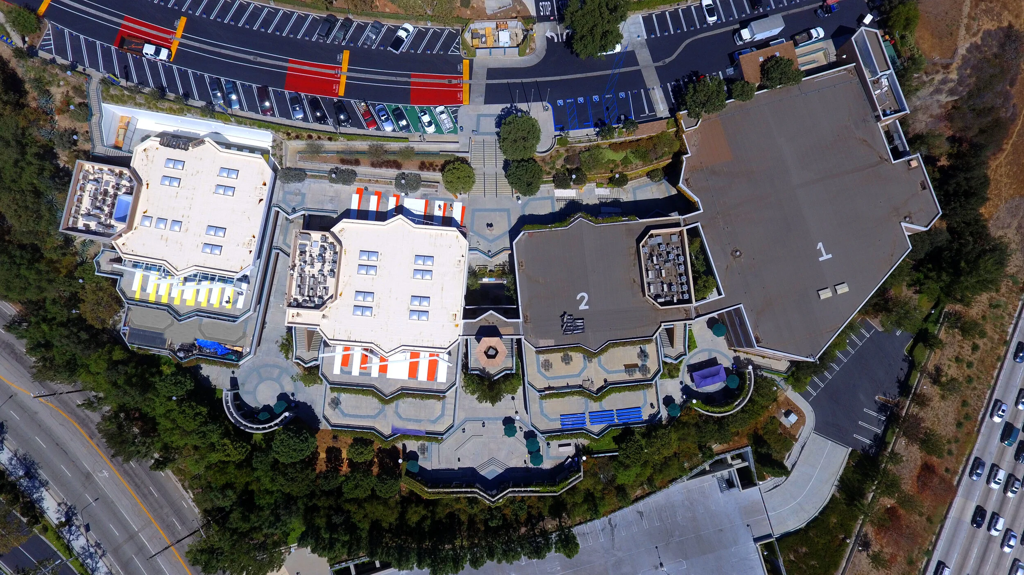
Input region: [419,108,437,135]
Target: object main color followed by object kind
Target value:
white car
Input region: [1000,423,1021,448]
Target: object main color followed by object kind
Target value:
blue car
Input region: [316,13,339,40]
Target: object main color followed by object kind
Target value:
black car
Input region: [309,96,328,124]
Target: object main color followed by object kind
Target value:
black car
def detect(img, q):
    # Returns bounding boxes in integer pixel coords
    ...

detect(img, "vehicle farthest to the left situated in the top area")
[115,32,171,61]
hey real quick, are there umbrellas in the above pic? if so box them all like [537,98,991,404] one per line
[723,372,743,392]
[526,451,546,469]
[501,421,520,440]
[257,407,273,424]
[709,320,727,340]
[523,436,542,455]
[270,397,289,416]
[402,457,422,477]
[665,400,683,419]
